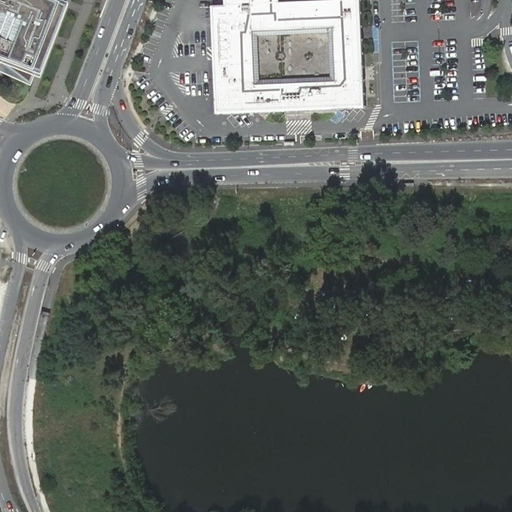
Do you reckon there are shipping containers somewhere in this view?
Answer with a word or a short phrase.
No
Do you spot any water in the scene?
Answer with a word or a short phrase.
Yes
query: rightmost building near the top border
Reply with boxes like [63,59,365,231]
[210,0,362,115]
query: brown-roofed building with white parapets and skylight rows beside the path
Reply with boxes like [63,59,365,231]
[0,0,68,85]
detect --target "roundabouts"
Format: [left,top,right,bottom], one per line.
[0,112,134,256]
